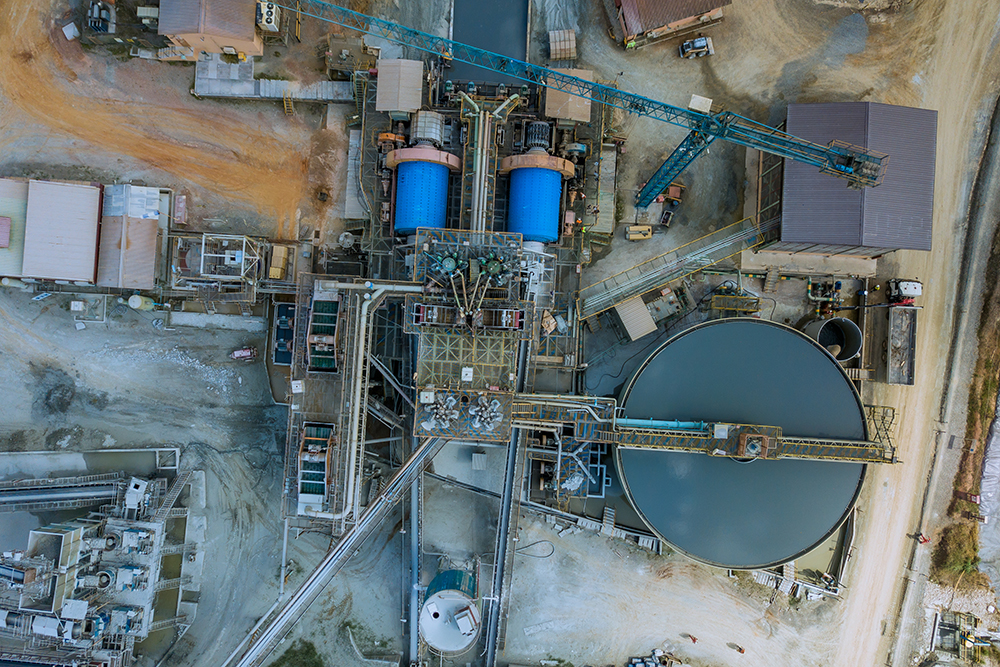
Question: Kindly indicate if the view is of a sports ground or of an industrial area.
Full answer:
The picture captures an industrial area.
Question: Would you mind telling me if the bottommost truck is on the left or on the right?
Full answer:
It is on the right.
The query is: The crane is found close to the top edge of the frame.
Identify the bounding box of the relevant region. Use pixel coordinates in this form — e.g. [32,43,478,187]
[249,0,898,204]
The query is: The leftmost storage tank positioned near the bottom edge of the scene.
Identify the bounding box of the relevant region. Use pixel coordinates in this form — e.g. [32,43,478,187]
[417,560,495,667]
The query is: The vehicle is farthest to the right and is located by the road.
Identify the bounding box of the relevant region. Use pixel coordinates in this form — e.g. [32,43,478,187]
[886,279,937,391]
